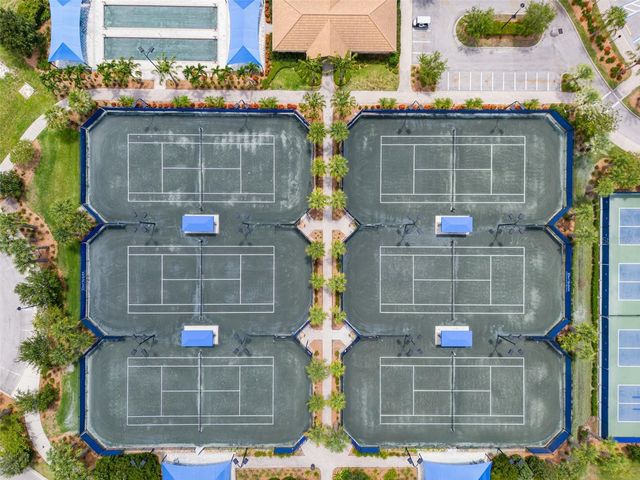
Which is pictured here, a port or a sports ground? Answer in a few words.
sports ground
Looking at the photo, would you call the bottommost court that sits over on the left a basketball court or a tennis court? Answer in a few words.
tennis court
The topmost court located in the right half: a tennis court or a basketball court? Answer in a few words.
tennis court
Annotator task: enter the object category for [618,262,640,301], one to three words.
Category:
sports court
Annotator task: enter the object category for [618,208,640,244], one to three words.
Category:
sports court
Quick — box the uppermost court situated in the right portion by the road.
[344,111,566,225]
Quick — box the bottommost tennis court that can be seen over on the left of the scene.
[86,336,312,449]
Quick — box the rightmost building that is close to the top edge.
[273,0,396,64]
